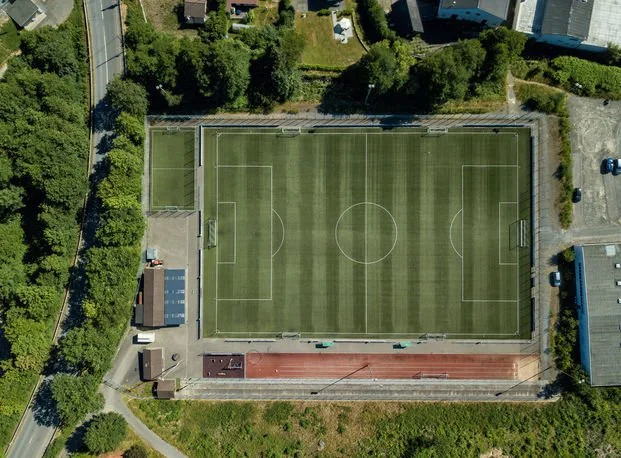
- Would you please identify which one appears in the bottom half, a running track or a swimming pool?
running track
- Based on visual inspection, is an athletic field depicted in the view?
Yes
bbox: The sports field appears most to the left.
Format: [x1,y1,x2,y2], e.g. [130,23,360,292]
[151,129,195,209]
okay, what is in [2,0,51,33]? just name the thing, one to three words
house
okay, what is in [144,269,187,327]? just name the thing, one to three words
building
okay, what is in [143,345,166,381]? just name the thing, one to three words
house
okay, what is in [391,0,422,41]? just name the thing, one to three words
barn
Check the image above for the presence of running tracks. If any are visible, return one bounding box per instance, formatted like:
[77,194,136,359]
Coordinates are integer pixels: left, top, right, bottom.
[246,352,519,379]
